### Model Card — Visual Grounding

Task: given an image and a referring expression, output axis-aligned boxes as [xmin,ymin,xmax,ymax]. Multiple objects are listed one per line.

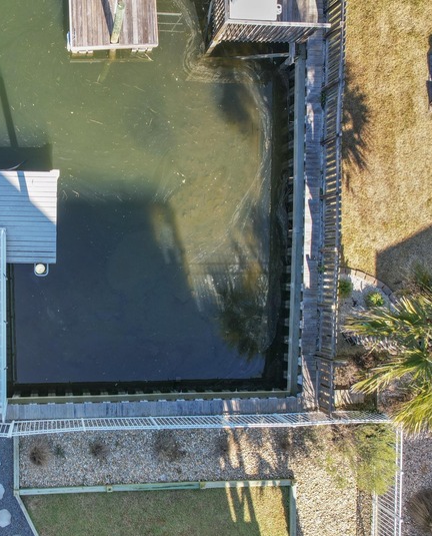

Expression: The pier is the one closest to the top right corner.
[204,0,339,68]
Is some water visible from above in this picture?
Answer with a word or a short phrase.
Yes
